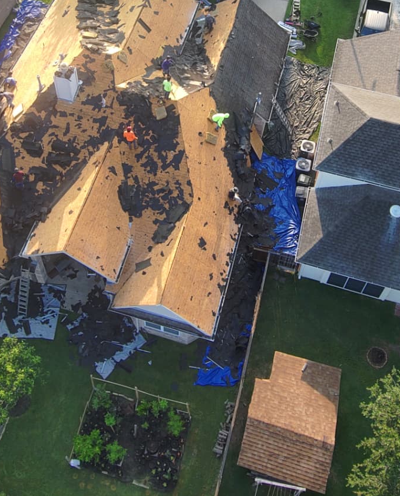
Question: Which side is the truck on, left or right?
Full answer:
The truck appears in the right half of the scene.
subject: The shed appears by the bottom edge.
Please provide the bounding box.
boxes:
[236,357,340,495]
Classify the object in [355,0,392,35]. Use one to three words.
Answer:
truck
